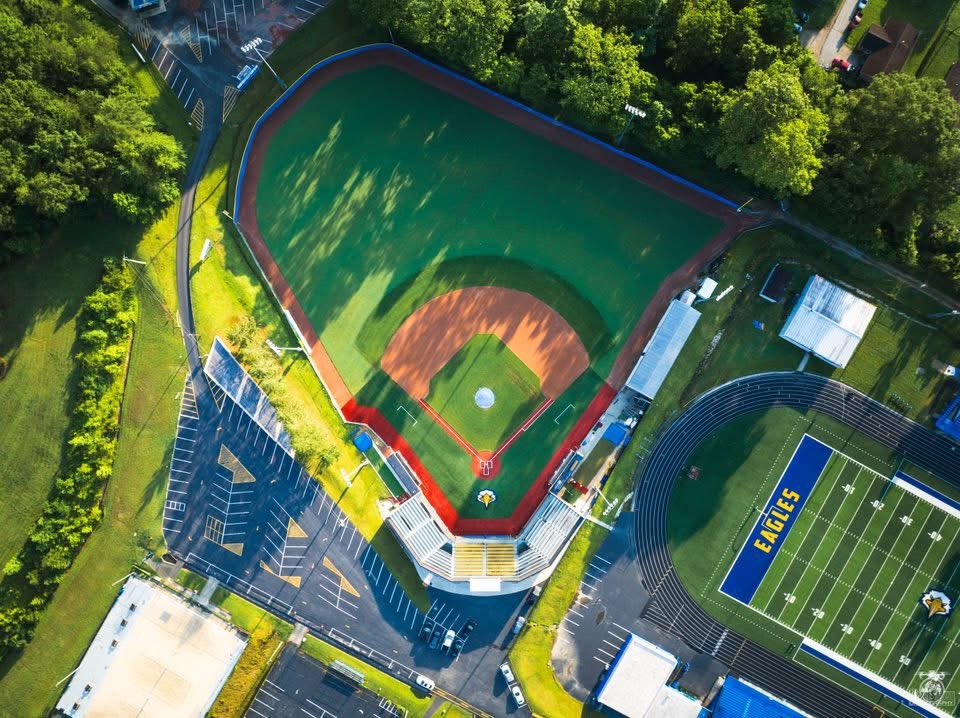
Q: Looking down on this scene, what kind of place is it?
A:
sports ground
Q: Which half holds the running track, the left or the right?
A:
right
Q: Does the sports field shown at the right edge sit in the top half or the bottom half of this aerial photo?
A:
bottom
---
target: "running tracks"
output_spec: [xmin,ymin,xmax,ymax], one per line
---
[629,369,960,718]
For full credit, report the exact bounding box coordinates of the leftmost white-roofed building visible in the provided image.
[51,570,255,718]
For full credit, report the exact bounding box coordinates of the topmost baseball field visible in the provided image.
[236,47,747,535]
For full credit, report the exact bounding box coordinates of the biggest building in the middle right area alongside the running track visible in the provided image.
[774,276,877,367]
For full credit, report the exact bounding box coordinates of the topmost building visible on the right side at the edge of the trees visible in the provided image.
[852,18,921,77]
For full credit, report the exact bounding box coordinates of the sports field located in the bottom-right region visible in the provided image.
[666,406,960,718]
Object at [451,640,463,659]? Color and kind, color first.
blue vehicle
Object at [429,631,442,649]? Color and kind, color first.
blue vehicle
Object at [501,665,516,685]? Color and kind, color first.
white car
